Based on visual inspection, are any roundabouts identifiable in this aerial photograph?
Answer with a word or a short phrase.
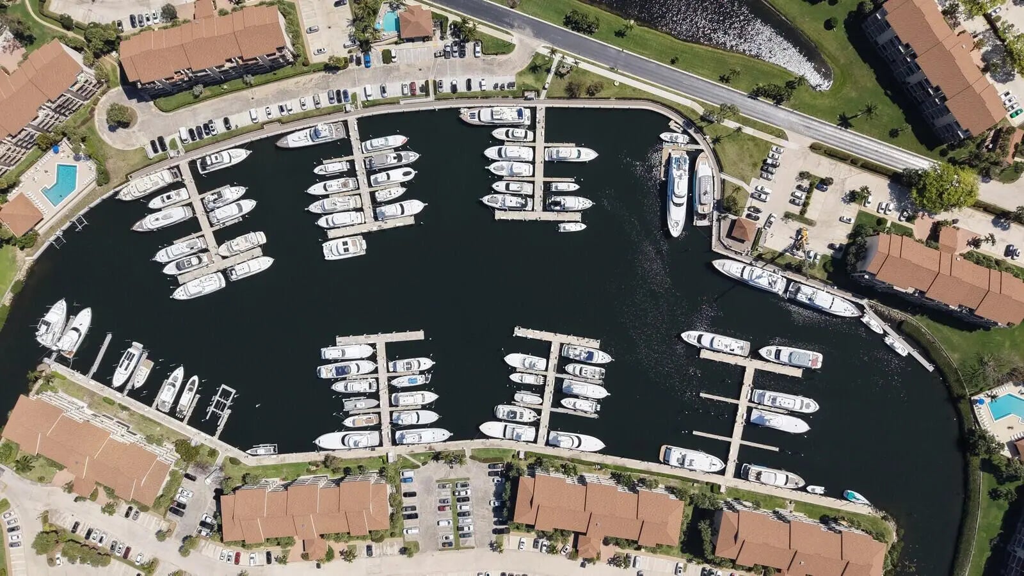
Yes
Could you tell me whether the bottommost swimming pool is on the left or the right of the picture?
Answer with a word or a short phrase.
right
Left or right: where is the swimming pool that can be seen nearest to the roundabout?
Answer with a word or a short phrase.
left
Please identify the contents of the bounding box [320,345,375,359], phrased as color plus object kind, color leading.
white boat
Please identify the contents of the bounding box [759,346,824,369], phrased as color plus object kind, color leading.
white boat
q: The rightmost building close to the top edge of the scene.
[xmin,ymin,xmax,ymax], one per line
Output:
[863,0,1013,142]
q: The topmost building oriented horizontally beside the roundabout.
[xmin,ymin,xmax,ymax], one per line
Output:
[115,3,294,95]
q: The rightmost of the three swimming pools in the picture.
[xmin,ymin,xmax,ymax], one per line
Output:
[973,382,1024,456]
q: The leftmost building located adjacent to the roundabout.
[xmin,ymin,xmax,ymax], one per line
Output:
[0,36,98,170]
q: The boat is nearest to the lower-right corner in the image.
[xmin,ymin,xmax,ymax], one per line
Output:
[840,489,870,505]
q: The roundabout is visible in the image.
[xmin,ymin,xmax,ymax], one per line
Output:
[94,86,154,151]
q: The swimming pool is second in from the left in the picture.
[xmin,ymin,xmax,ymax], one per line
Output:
[374,2,404,42]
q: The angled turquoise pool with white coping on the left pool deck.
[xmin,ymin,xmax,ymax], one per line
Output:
[11,139,97,228]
